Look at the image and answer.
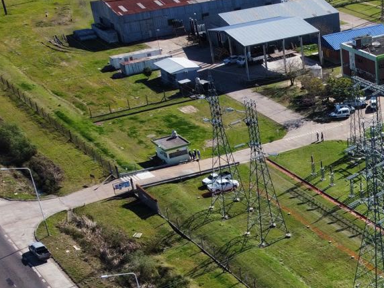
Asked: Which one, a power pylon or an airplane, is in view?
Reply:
power pylon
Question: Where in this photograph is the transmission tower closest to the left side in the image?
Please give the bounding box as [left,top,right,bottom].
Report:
[194,78,253,218]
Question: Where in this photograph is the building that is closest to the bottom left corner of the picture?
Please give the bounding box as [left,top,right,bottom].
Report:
[148,131,192,162]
